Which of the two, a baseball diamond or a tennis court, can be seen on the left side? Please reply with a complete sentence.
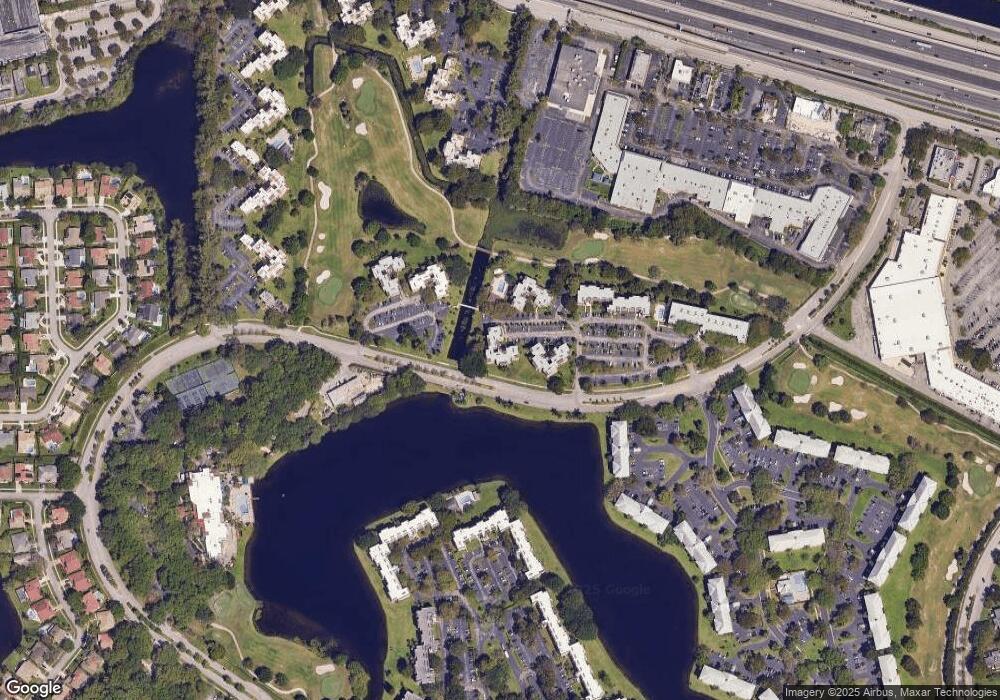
The feature located on the left side is a tennis court.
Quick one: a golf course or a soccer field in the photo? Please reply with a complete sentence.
I can see a golf course in this picture.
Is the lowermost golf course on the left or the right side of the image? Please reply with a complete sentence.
The lowermost golf course appears in the left half of the scene.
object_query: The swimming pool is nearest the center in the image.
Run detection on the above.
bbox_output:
[488,268,508,302]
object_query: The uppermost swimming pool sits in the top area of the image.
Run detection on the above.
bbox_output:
[407,56,437,80]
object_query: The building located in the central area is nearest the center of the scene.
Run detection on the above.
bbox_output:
[485,325,519,367]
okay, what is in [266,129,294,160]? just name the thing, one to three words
swimming pool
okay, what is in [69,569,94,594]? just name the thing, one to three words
house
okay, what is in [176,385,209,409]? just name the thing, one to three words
tennis court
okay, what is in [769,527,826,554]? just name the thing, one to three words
building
